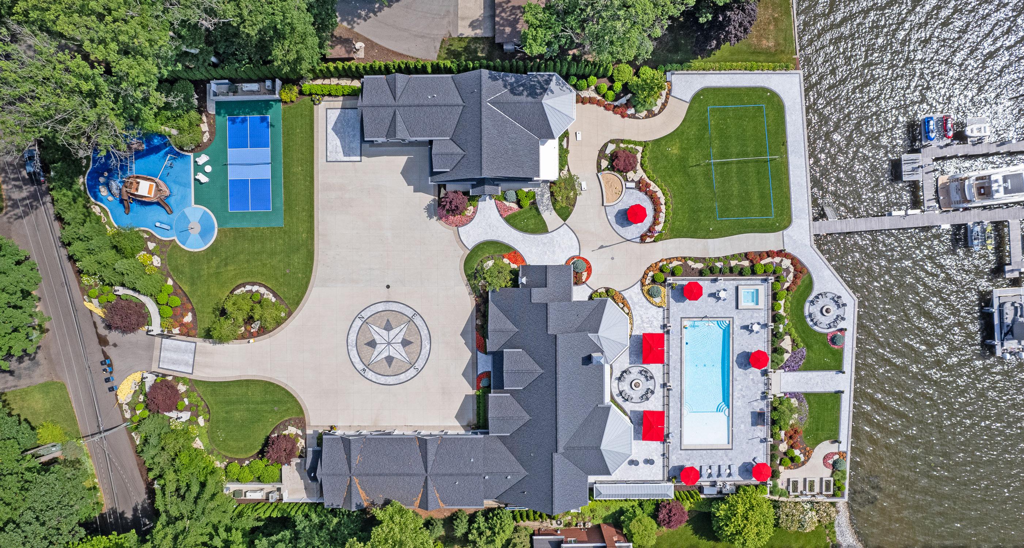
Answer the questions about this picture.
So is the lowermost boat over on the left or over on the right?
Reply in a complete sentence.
The lowermost boat appears in the right half of the scene.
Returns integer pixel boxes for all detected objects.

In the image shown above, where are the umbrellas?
[683,282,702,300]
[748,349,769,370]
[752,462,770,480]
[642,410,666,441]
[680,465,699,485]
[627,204,646,223]
[642,333,666,364]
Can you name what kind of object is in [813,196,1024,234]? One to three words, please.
pier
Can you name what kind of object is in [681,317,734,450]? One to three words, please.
swimming pool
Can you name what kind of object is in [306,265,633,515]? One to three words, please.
house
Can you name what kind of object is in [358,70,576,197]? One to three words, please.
house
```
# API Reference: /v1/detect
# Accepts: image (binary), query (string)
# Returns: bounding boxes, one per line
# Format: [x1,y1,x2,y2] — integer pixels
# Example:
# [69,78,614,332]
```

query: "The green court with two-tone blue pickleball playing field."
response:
[194,99,284,228]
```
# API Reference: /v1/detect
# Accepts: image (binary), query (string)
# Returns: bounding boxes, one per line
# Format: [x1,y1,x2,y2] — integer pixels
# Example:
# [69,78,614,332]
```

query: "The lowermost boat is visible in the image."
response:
[1002,301,1024,355]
